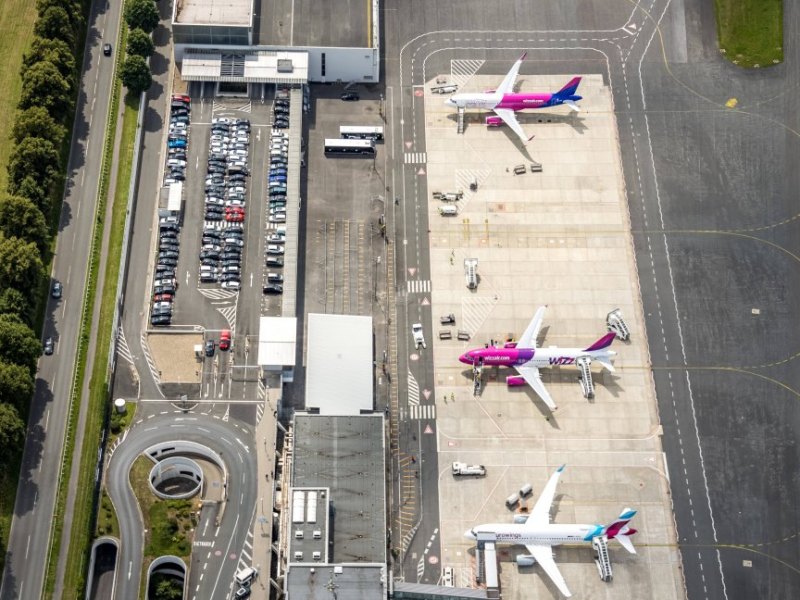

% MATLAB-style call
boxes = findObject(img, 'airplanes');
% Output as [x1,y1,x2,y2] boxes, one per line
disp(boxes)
[459,302,618,411]
[464,461,637,596]
[445,51,584,140]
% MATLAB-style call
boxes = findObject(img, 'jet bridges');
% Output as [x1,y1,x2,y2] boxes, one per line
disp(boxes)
[477,531,500,600]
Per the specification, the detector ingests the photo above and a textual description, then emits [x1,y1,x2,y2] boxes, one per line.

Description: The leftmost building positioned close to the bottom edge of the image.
[270,411,388,600]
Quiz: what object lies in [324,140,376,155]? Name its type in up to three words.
vehicle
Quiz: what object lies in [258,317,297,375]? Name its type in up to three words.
building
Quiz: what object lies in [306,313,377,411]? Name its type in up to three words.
building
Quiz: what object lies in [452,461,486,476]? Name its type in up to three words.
work vehicle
